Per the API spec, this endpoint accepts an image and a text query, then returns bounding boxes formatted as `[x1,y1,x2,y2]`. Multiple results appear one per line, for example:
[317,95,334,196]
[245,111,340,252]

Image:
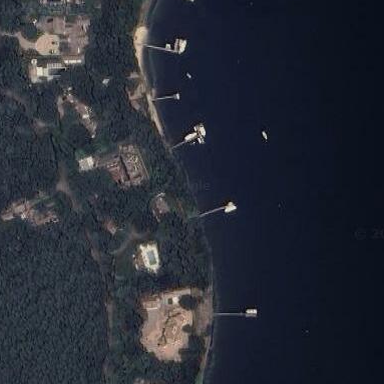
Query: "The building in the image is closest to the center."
[150,191,170,216]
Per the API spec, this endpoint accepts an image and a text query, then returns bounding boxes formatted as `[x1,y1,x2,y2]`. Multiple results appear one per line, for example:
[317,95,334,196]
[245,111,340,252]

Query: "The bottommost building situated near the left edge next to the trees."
[0,194,59,227]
